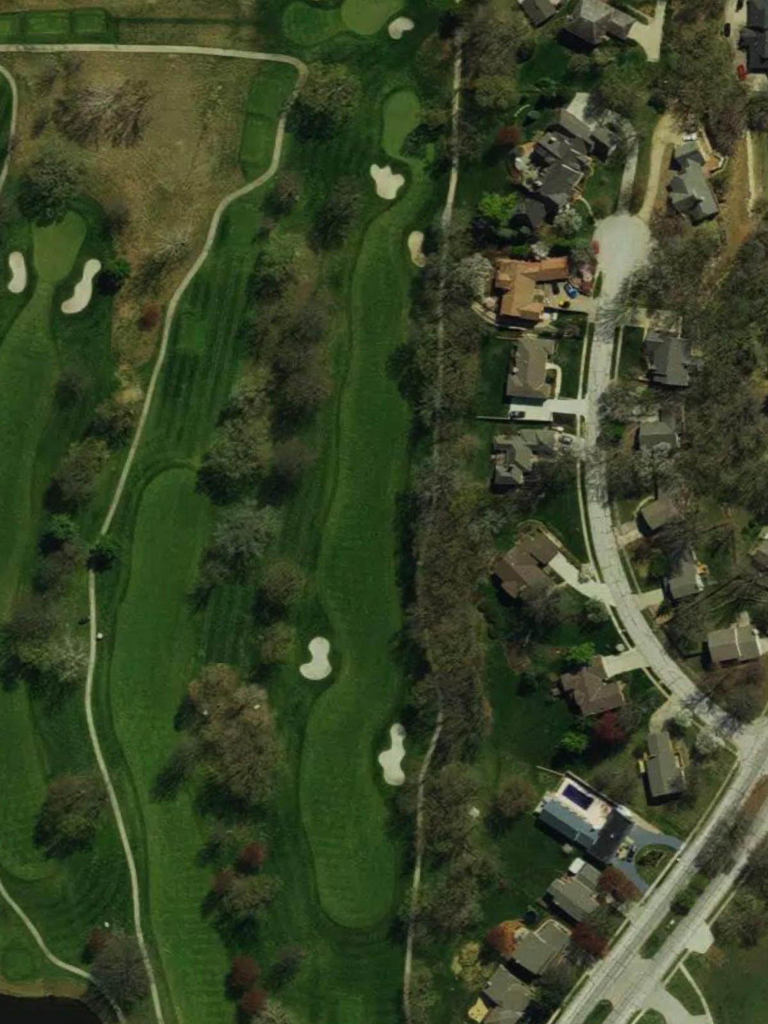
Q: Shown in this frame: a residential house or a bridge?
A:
residential house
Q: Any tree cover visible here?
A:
Yes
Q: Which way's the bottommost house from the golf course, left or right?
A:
to its right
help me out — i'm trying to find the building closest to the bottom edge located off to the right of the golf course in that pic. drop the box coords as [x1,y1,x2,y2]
[468,965,533,1024]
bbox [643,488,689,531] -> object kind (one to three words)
house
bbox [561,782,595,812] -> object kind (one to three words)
swimming pool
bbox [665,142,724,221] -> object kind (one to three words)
house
